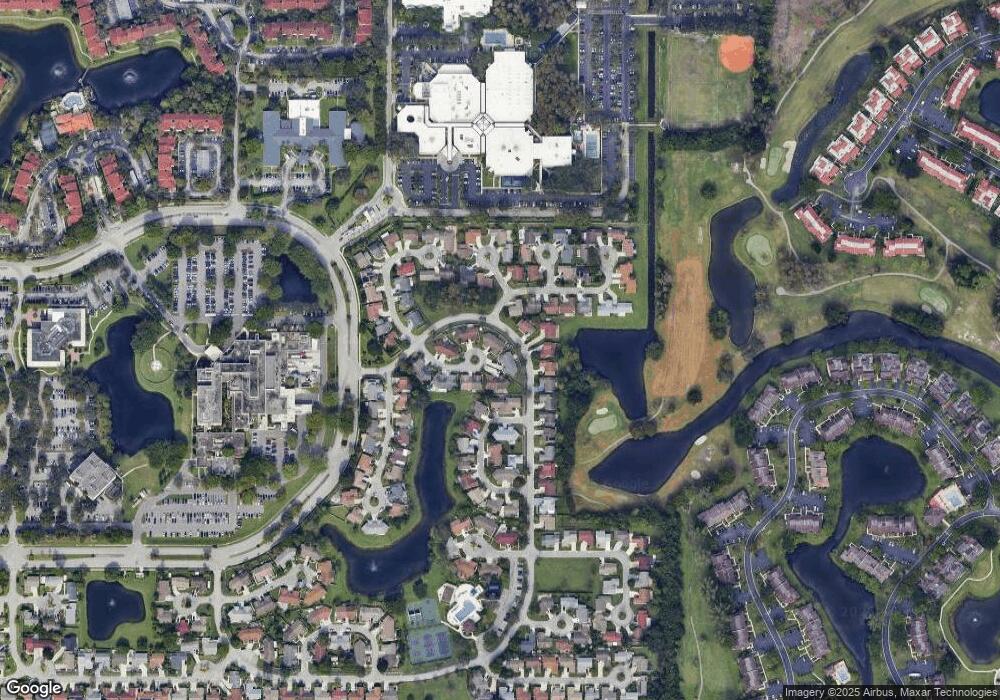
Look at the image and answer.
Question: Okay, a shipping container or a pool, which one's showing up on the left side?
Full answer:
Looking on the left side, you will find a pool.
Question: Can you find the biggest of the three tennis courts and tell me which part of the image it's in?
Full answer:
The biggest of the three tennis courts is in the bottom part of the image.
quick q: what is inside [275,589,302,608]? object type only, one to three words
house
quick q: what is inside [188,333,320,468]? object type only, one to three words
building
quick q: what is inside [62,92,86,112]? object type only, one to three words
swimming pool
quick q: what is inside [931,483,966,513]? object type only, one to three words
swimming pool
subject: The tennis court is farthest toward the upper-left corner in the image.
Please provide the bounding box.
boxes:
[38,117,56,146]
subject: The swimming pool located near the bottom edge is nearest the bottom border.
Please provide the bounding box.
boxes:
[836,660,850,685]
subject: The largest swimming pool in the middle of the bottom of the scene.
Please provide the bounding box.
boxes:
[438,586,482,628]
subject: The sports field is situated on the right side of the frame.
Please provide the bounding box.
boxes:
[668,33,754,126]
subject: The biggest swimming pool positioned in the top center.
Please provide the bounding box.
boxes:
[583,125,601,158]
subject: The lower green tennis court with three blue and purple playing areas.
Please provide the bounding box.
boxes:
[407,625,452,664]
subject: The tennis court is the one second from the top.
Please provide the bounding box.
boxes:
[407,598,439,627]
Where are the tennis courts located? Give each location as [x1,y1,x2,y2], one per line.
[407,598,439,627]
[38,117,56,146]
[407,625,452,664]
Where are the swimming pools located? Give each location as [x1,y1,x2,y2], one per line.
[438,586,482,628]
[62,92,86,112]
[931,483,966,513]
[583,125,601,158]
[836,660,850,685]
[572,129,583,142]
